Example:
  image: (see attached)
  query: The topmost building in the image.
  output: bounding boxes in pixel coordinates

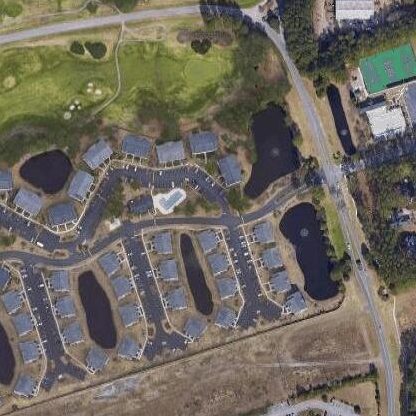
[335,0,374,19]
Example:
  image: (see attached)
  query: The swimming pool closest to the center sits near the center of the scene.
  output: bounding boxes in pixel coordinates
[153,187,186,214]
